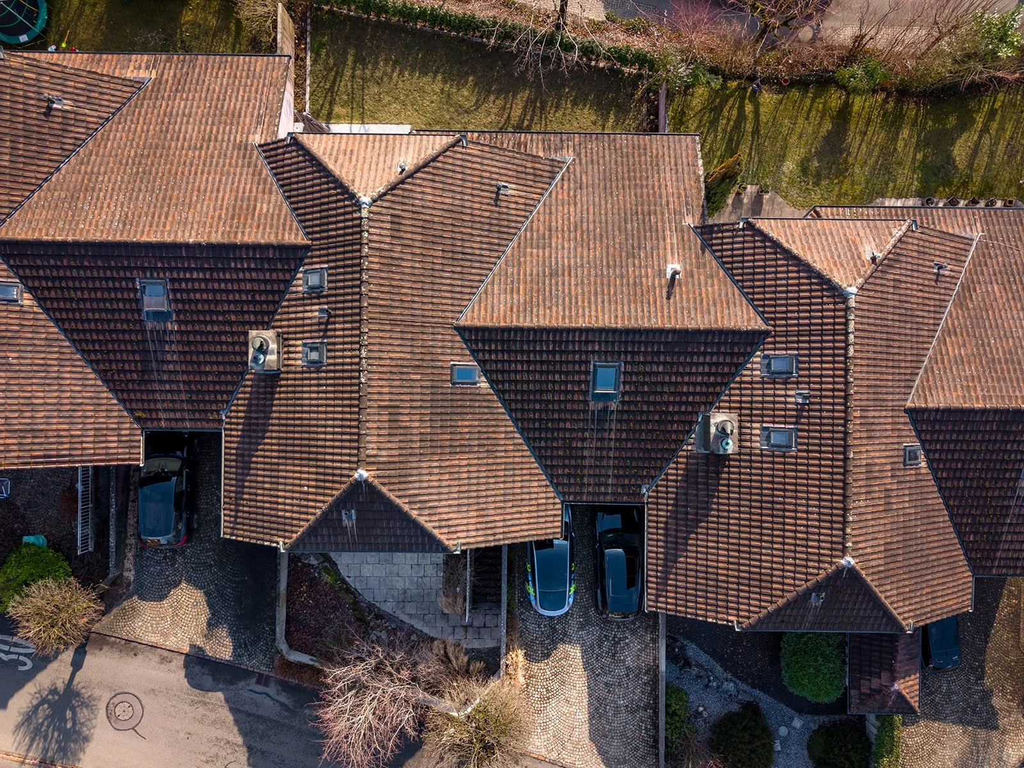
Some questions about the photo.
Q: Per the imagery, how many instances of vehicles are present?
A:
four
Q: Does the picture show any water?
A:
No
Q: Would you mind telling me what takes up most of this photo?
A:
buildings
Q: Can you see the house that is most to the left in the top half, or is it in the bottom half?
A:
top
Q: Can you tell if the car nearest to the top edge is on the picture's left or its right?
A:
left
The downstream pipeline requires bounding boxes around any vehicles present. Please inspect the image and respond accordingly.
[923,617,968,670]
[593,508,643,619]
[136,434,200,546]
[528,510,582,615]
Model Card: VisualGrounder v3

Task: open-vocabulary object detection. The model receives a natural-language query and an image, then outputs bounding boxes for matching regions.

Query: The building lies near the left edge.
[0,47,306,476]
